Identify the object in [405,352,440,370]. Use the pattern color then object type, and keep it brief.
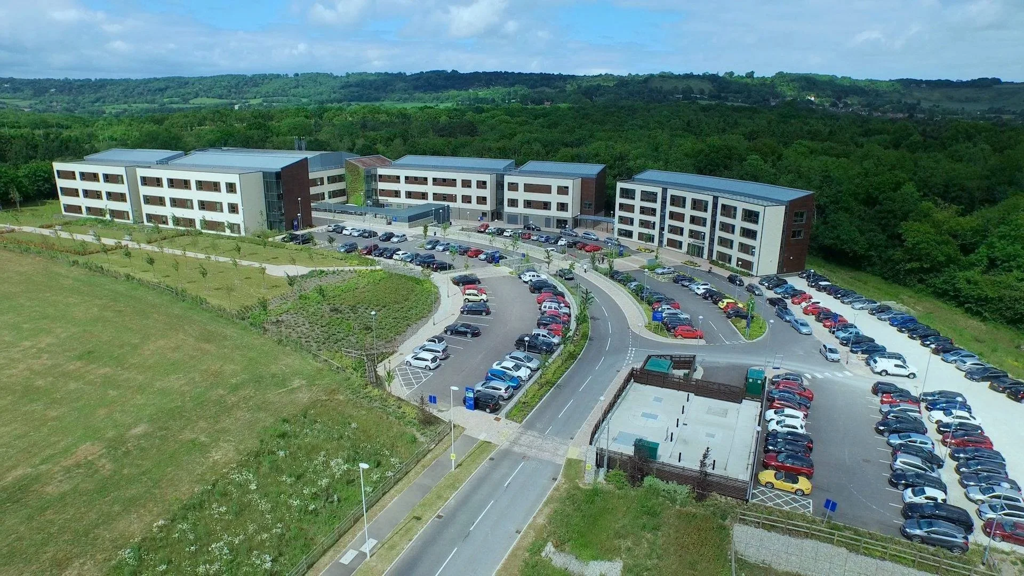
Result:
white car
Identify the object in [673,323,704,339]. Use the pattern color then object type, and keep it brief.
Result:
red car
